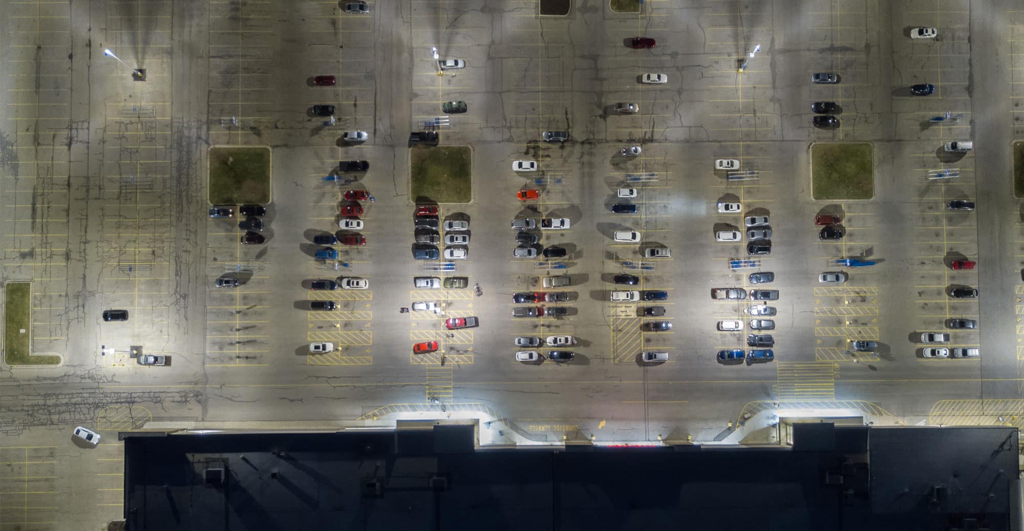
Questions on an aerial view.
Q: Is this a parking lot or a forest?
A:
parking lot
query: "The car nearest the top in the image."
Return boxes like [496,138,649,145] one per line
[347,1,369,13]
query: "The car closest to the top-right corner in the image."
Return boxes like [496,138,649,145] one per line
[910,27,937,39]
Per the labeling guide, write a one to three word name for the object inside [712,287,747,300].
vehicle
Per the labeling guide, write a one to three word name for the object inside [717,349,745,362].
vehicle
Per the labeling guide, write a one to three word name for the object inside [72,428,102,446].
car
